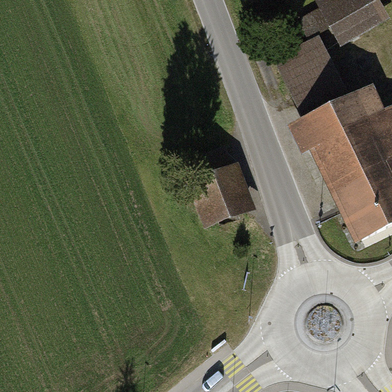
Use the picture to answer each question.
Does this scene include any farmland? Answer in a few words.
Yes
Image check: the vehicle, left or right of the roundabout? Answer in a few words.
to the left of it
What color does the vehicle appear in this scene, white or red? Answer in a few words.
white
